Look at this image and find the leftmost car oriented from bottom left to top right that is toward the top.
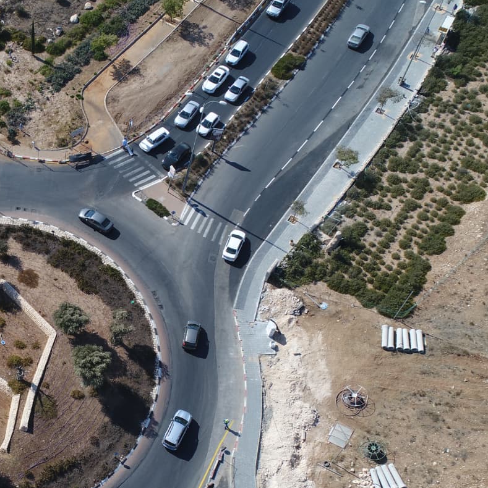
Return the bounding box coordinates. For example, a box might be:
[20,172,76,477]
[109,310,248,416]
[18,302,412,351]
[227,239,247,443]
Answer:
[137,125,173,153]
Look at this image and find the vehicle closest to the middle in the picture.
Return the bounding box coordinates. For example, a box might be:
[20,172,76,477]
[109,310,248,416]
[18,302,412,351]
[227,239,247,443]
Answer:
[220,230,245,265]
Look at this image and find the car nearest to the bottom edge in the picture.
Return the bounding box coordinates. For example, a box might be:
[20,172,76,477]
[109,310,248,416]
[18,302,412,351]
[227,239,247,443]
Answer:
[161,409,191,454]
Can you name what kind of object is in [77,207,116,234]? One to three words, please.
car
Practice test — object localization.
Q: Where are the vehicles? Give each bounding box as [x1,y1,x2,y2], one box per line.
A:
[77,207,116,234]
[195,109,224,139]
[172,97,202,130]
[180,320,203,356]
[159,139,194,172]
[220,230,245,265]
[201,65,232,96]
[223,73,252,105]
[224,38,252,67]
[137,125,173,153]
[265,0,291,17]
[161,409,191,454]
[345,23,372,52]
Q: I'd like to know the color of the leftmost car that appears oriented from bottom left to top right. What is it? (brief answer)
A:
white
